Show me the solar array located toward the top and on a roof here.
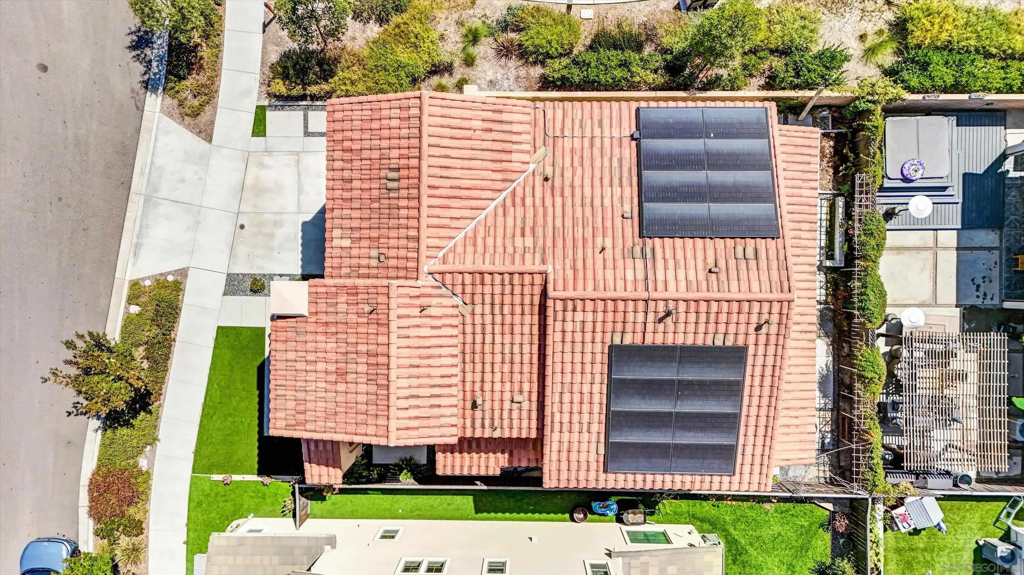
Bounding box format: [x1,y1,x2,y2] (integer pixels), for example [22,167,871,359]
[636,107,781,238]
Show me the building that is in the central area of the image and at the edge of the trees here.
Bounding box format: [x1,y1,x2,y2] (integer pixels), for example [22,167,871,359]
[268,87,823,495]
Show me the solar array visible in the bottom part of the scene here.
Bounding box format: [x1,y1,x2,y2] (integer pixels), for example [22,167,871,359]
[603,343,748,475]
